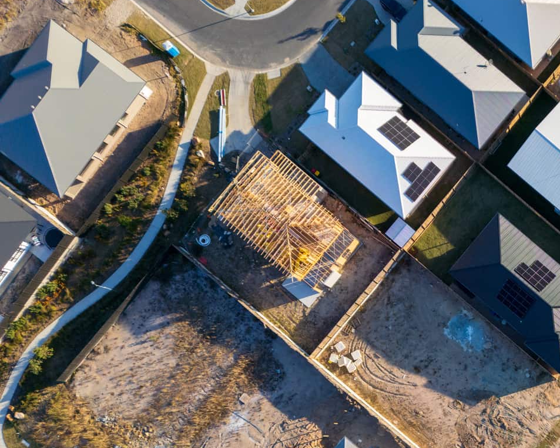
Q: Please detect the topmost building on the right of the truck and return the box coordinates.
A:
[450,0,560,71]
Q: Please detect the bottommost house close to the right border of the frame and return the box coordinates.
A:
[448,212,560,372]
